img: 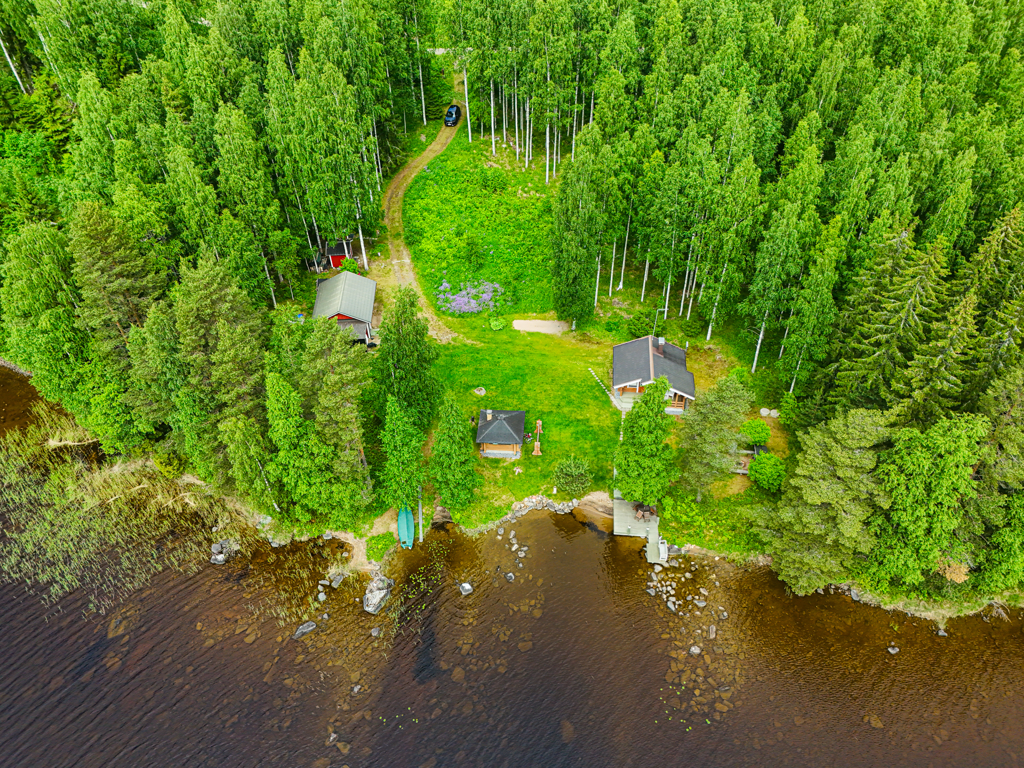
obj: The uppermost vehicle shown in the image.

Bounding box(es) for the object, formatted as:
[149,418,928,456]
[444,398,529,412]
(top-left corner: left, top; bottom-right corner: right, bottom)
[444,107,460,128]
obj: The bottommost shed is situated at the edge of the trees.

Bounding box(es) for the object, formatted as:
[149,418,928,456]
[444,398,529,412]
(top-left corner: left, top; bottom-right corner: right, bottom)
[476,407,525,460]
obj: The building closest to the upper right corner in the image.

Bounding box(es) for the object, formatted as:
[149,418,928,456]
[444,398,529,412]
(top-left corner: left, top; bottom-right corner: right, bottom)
[612,336,696,417]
